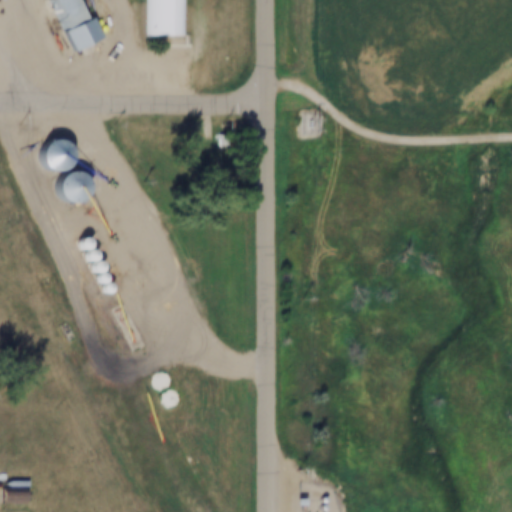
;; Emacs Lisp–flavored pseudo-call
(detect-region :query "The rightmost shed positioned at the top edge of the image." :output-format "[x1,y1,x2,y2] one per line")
[145,0,188,38]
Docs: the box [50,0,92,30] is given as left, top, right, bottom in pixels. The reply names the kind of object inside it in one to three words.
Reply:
barn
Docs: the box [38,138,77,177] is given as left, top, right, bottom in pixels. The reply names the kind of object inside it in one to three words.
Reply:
silo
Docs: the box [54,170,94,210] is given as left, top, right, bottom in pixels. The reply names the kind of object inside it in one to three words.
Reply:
silo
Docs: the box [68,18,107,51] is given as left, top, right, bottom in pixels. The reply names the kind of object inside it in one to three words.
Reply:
shed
